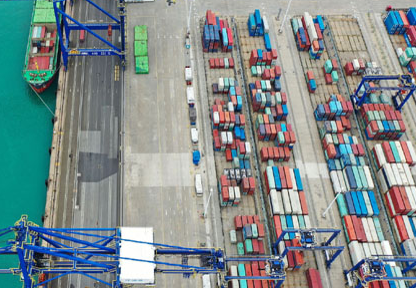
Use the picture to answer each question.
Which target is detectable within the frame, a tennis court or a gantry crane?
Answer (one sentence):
There is a gantry crane in the scene.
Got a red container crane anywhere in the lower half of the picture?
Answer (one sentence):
No, I can find no red container crane in the lower half of the picture.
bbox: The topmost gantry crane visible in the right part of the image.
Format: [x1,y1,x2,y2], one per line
[350,73,416,113]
